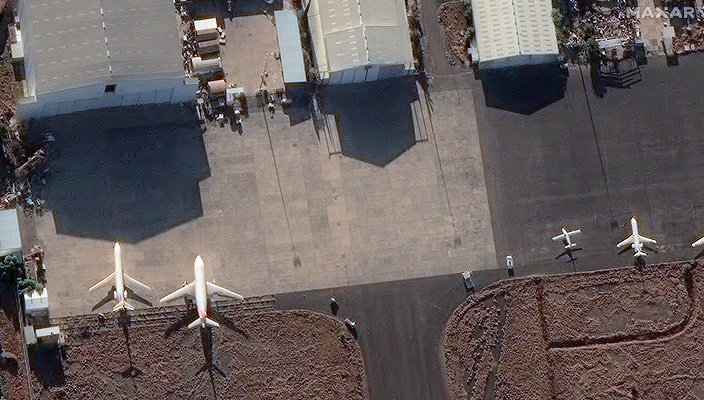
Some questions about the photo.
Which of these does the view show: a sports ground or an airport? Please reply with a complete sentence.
What you see here is an airport.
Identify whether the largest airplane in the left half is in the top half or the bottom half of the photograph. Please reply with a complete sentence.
The largest airplane in the left half is in the bottom half of the image.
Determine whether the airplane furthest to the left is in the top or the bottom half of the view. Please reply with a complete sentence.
Seen from above, the airplane furthest to the left lies in the bottom half of the view.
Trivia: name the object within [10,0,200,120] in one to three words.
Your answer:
hangar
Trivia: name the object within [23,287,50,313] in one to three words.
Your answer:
house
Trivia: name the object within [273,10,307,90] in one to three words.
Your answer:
shed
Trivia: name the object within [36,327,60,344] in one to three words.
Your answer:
building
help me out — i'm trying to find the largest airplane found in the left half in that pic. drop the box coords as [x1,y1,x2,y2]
[160,257,243,329]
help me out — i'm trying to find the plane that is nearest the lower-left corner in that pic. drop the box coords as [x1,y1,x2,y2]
[91,243,152,309]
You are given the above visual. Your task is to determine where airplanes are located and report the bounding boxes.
[693,236,704,245]
[160,257,243,329]
[551,226,581,249]
[91,243,152,309]
[618,216,659,255]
